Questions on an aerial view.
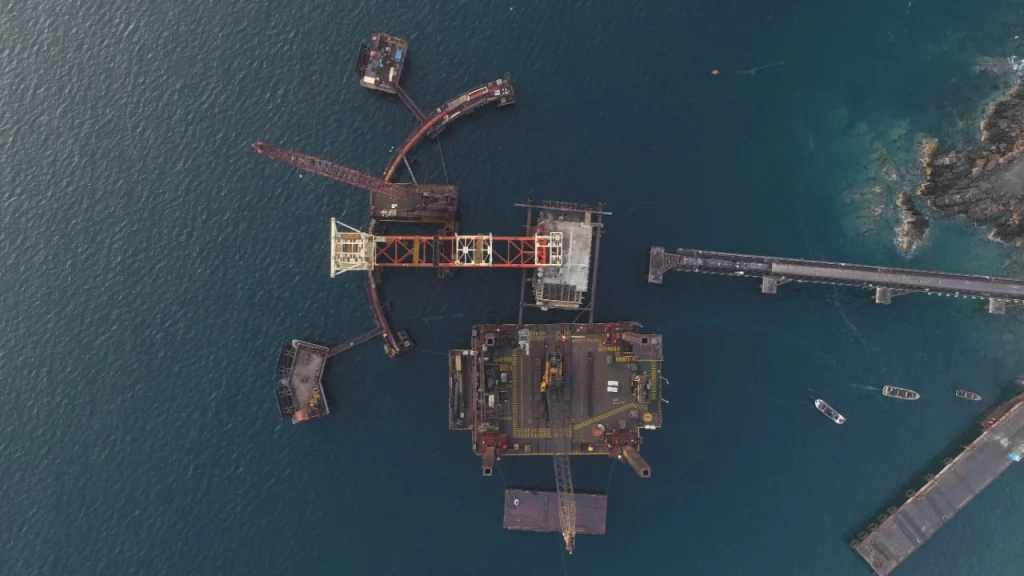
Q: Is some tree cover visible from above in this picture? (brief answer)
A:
No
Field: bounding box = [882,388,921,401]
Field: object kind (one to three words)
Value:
boat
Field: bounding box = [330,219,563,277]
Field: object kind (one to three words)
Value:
bridge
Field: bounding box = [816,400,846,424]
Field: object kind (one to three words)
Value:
boat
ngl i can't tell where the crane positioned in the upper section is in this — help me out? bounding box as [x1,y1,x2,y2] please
[248,142,461,214]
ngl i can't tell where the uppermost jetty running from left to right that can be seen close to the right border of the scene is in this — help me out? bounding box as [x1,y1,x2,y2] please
[642,247,1024,313]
